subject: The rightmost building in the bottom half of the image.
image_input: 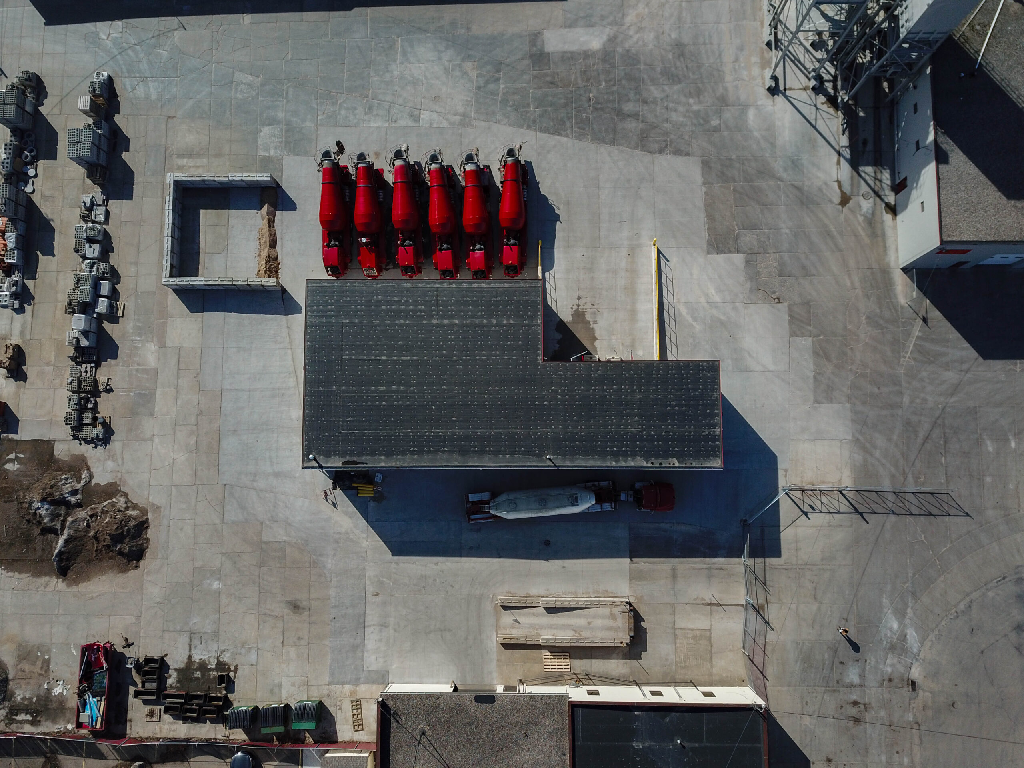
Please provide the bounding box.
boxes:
[569,684,773,768]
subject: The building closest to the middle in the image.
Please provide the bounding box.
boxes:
[301,279,723,473]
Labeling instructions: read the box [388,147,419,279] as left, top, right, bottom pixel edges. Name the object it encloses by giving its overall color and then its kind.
red truck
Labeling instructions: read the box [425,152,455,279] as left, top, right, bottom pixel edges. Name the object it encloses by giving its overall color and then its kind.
red truck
